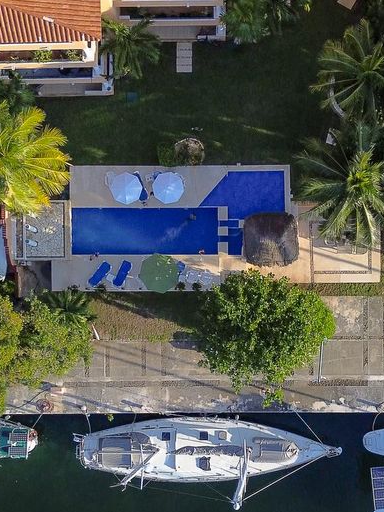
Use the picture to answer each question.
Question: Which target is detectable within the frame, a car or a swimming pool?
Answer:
swimming pool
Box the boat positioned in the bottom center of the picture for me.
[74,414,343,512]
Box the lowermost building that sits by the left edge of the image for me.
[12,202,74,261]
